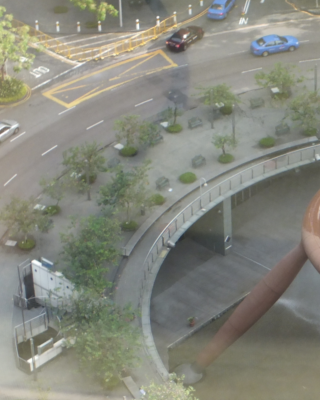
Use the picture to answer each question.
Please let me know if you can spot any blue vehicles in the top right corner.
Yes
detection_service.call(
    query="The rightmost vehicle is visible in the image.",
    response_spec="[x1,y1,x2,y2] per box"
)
[250,33,300,57]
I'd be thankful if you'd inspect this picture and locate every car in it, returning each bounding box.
[0,118,20,143]
[250,33,300,57]
[165,25,205,51]
[206,0,236,18]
